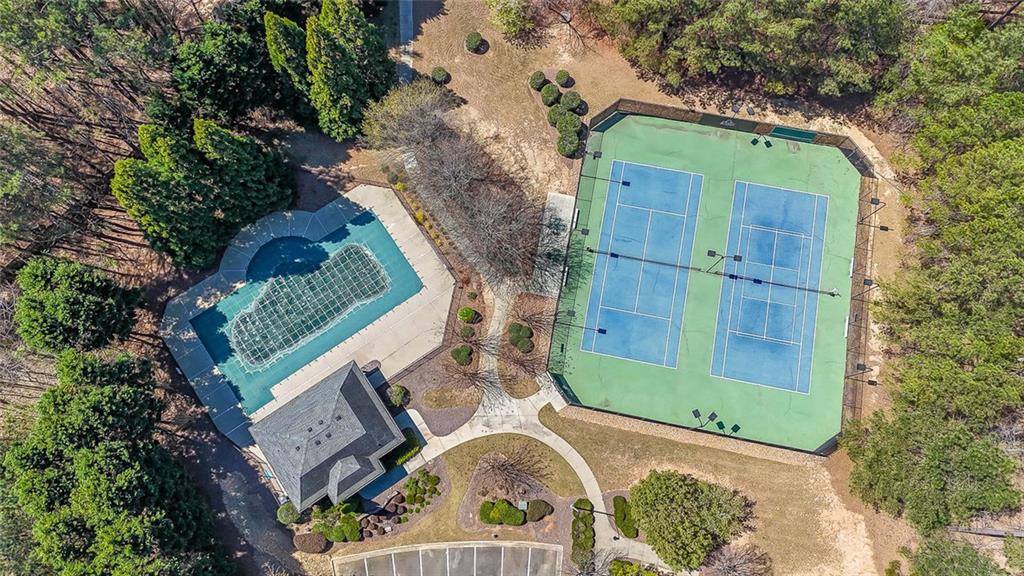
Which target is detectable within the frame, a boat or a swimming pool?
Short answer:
swimming pool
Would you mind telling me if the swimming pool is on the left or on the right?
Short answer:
left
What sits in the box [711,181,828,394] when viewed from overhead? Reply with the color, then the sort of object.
blue tennis court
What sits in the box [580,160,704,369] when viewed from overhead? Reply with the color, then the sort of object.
blue tennis court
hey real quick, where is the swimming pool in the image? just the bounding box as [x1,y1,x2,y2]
[160,184,456,482]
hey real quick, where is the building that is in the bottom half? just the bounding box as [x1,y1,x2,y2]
[249,359,406,514]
